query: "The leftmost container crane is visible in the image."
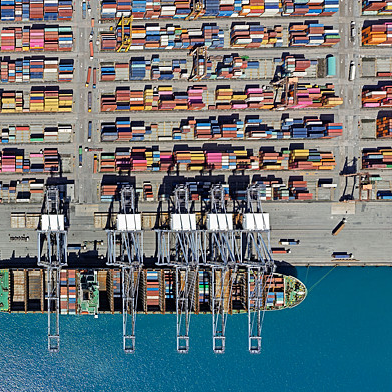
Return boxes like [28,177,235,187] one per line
[31,186,69,353]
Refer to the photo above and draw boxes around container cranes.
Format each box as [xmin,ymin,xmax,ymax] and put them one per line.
[272,75,298,112]
[148,186,206,353]
[217,186,285,353]
[115,15,133,54]
[31,186,69,353]
[186,45,208,84]
[99,186,148,353]
[184,186,245,353]
[342,174,372,203]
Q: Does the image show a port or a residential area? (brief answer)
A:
port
